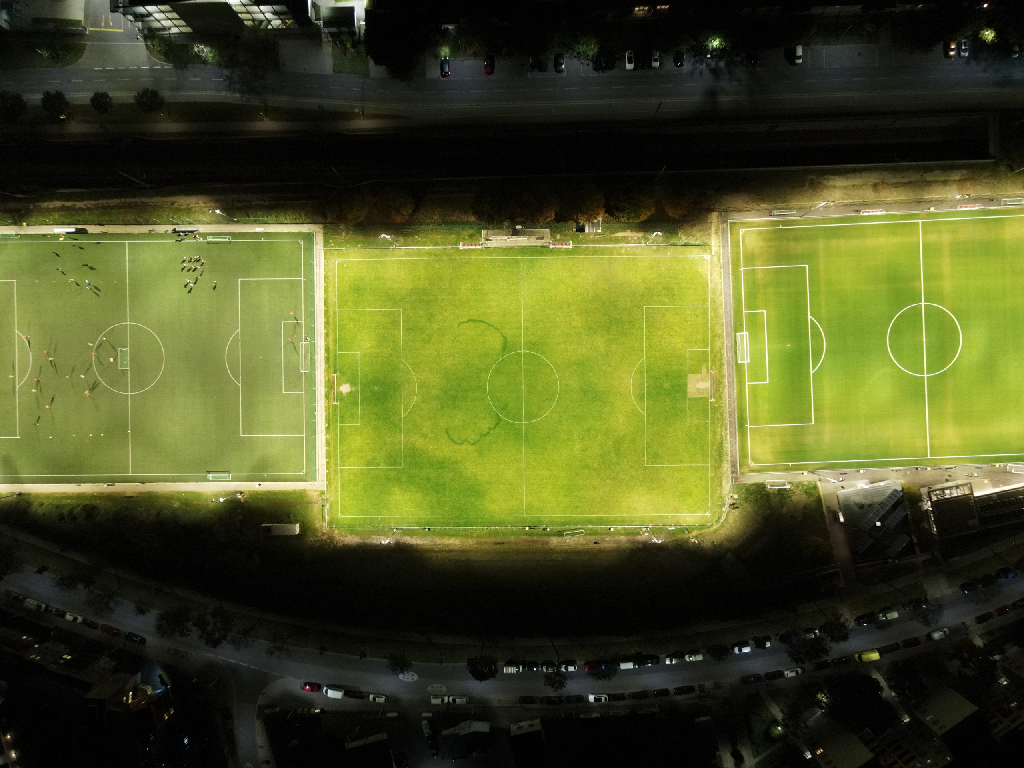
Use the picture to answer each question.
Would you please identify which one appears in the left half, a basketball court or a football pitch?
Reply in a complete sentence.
Visible in the left half is a football pitch.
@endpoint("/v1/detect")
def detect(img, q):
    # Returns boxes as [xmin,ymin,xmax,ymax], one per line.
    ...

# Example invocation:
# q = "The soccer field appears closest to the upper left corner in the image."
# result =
[0,232,318,484]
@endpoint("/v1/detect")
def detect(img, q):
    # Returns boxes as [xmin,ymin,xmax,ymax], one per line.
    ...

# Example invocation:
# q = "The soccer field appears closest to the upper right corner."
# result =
[730,207,1024,474]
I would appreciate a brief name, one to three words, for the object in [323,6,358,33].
building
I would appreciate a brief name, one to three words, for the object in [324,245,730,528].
soccer field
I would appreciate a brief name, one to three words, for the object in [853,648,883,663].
vehicle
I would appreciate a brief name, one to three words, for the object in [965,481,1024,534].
building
